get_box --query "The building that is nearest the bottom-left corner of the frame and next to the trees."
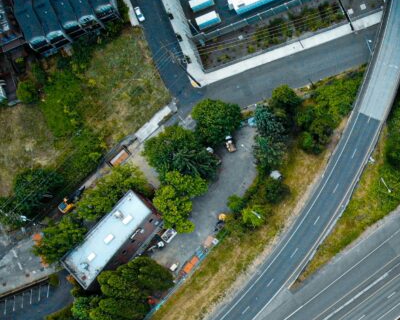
[59,189,164,293]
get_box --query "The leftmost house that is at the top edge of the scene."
[0,2,32,58]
